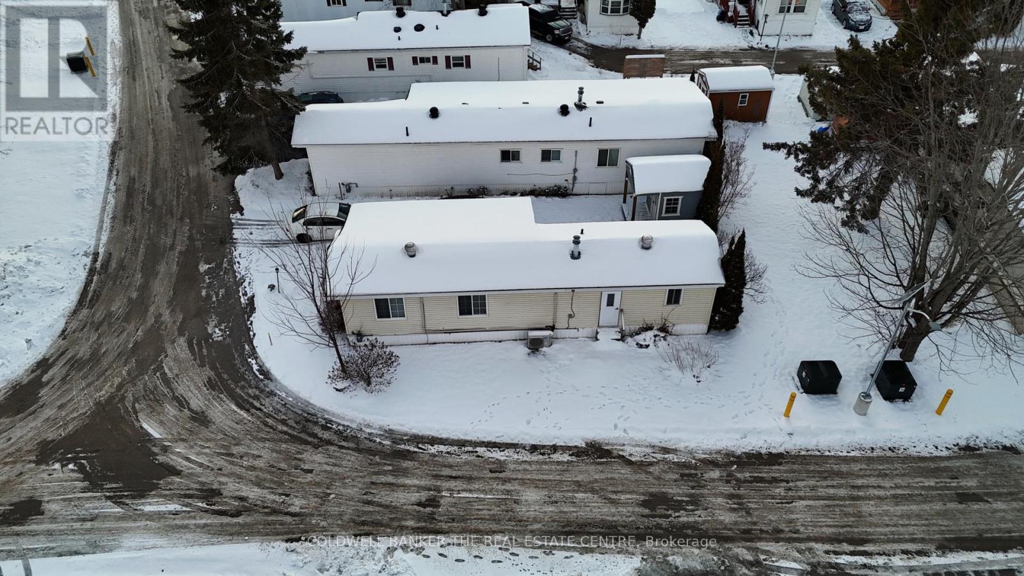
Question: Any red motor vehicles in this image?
No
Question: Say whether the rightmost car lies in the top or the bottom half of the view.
top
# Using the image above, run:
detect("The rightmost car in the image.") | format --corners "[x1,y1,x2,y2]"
[833,0,879,28]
